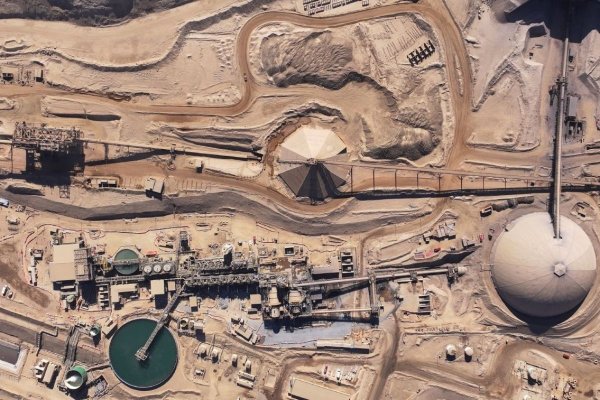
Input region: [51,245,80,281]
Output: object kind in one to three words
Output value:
building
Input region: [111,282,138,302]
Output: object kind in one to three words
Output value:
building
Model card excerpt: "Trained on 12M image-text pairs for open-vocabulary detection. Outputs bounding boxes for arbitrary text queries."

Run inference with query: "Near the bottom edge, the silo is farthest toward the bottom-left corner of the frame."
[65,365,88,388]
